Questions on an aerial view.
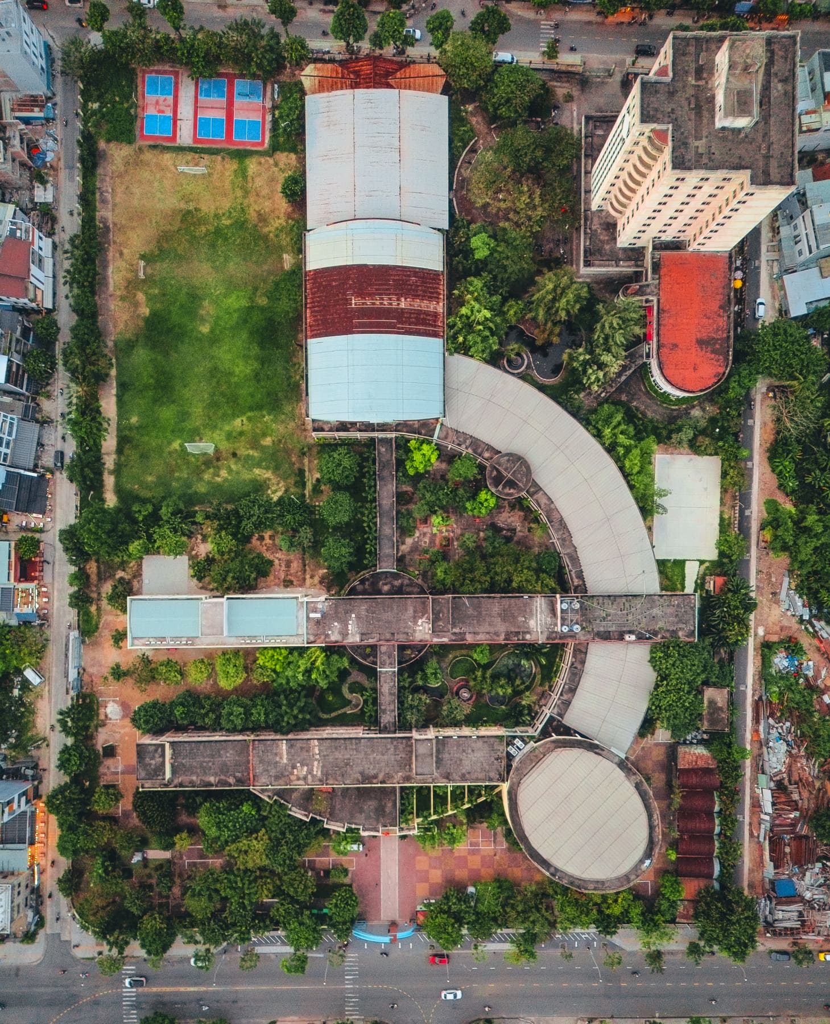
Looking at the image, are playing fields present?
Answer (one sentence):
Yes, there is a playing field in the image.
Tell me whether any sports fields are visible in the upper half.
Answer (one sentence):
Yes, I can see a sports field in the upper half.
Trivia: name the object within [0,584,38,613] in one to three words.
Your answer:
house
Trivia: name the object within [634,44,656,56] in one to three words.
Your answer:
vehicle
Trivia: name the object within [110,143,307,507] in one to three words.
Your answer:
sports field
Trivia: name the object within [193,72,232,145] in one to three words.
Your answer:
sports court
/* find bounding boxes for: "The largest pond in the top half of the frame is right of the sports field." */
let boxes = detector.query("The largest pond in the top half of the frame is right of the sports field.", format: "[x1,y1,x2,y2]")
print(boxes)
[506,324,585,382]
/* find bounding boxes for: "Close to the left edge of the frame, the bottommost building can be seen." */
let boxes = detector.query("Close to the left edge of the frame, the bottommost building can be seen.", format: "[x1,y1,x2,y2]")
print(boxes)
[0,867,34,934]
